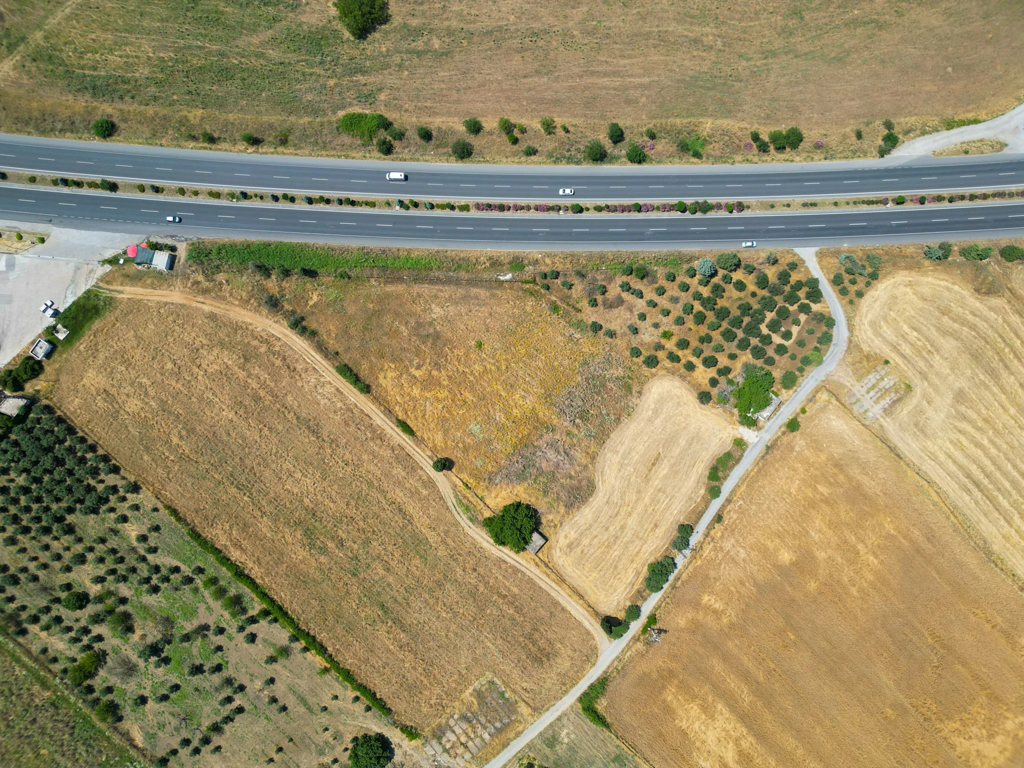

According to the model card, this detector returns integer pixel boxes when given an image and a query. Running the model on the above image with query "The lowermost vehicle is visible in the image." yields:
[37,300,55,313]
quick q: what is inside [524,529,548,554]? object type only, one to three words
shed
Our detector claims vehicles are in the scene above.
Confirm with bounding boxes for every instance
[37,300,55,313]
[387,173,406,181]
[742,241,756,248]
[559,189,574,195]
[166,216,182,223]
